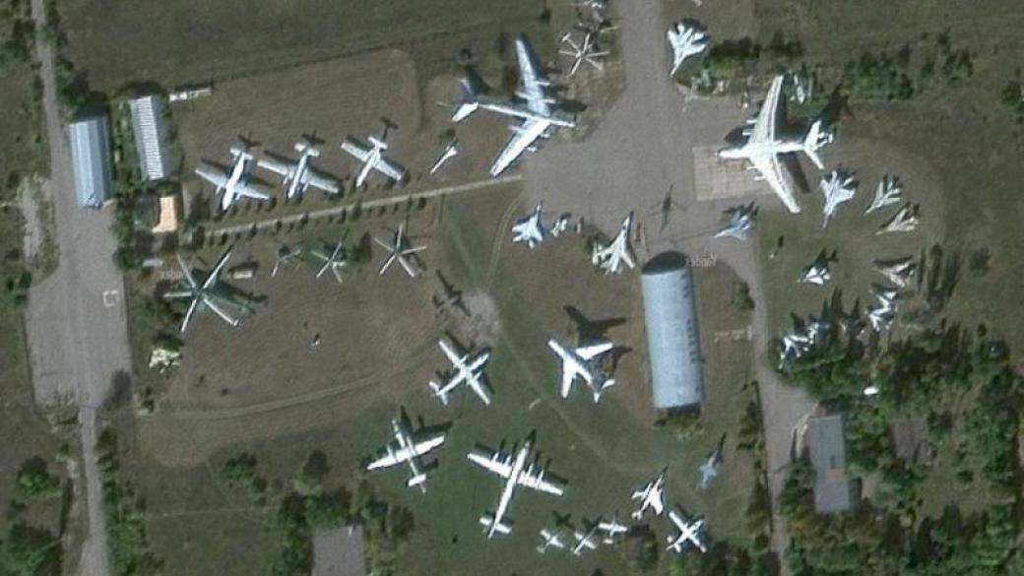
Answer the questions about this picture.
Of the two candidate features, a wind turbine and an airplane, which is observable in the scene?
airplane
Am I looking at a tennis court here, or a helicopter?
helicopter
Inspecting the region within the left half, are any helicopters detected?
Yes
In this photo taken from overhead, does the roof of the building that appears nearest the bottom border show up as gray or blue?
gray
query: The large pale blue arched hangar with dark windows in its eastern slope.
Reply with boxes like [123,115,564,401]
[643,267,707,408]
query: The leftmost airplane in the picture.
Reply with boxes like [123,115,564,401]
[195,147,269,211]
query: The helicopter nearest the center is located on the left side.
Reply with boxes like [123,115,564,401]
[375,224,424,279]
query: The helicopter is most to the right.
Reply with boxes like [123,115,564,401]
[645,181,688,236]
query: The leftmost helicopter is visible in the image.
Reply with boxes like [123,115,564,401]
[160,252,250,335]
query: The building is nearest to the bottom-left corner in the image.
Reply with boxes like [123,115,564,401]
[312,528,371,576]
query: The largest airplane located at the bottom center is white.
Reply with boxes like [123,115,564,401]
[466,440,560,539]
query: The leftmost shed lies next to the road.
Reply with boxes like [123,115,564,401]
[68,116,119,208]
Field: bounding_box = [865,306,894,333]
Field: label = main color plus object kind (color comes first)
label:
white airplane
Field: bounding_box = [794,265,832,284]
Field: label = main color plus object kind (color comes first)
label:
white airplane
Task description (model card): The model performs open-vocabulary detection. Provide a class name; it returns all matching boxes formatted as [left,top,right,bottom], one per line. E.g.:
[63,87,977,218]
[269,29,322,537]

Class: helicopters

[313,241,357,284]
[375,224,424,279]
[555,26,608,80]
[269,243,302,276]
[160,252,250,335]
[573,3,616,53]
[645,181,688,236]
